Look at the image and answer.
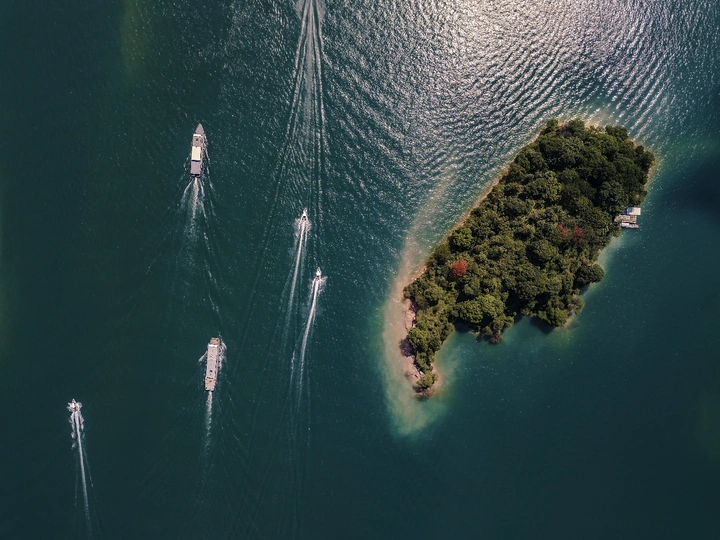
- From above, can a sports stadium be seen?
No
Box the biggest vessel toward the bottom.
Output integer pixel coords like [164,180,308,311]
[204,338,219,392]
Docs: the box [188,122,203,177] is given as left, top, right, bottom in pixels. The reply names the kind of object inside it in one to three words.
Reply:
ship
